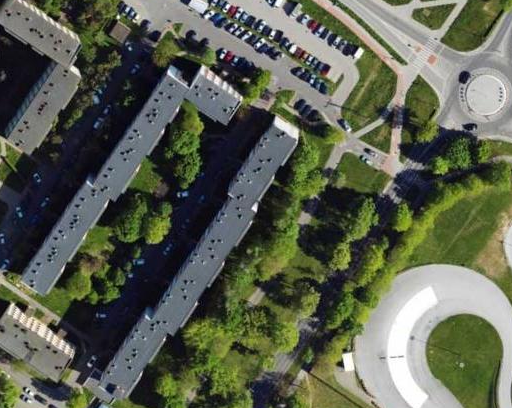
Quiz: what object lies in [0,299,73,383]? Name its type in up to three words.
building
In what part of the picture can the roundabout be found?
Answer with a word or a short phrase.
top right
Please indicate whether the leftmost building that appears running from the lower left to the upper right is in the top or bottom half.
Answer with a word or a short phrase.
top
